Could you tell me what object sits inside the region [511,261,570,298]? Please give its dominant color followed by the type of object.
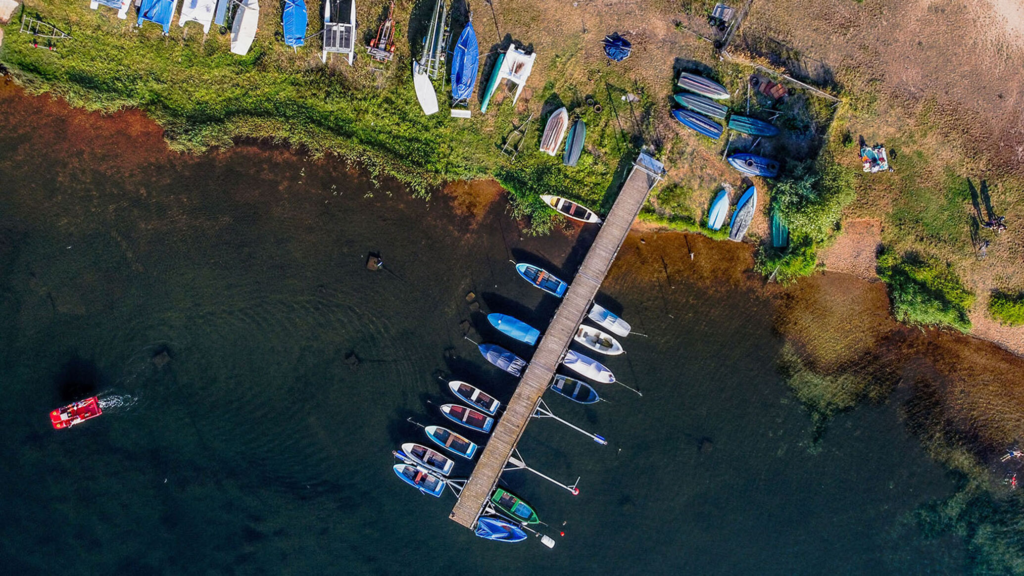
blue boat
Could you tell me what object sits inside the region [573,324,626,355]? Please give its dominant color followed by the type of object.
white boat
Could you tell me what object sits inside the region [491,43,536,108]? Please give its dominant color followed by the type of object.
white boat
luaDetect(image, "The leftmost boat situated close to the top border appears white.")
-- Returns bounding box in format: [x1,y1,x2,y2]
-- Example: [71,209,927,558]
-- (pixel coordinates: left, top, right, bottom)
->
[92,0,132,22]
